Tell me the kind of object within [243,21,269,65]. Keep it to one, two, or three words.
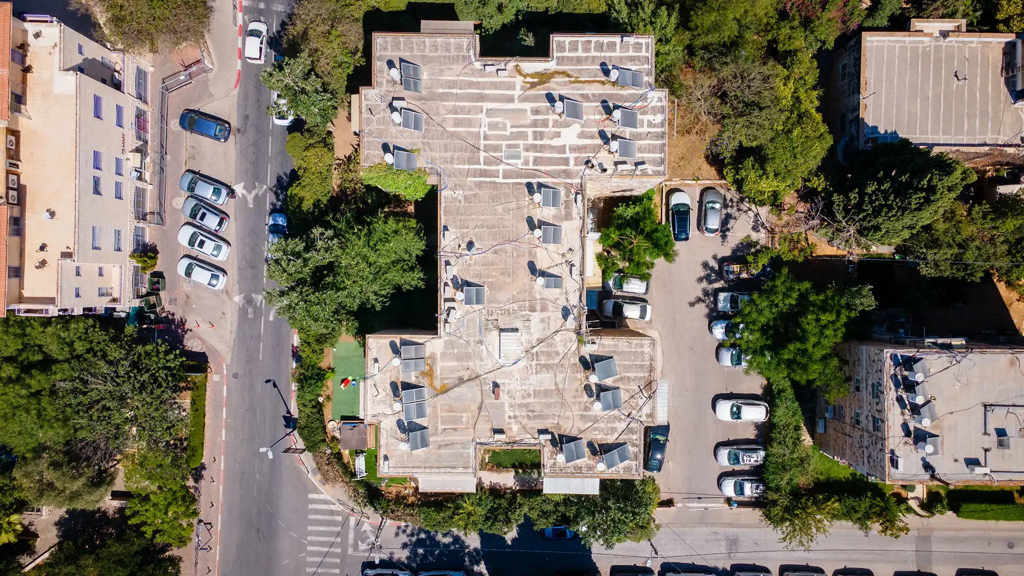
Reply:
car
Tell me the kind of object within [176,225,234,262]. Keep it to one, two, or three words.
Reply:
car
